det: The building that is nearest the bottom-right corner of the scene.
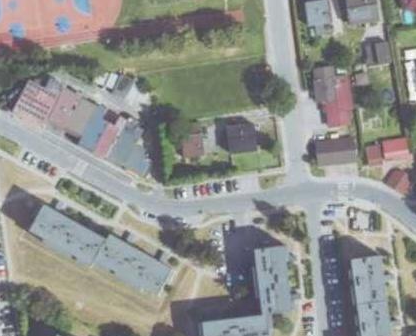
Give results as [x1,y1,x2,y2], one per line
[348,254,392,336]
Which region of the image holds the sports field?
top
